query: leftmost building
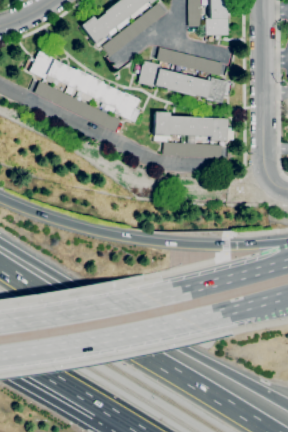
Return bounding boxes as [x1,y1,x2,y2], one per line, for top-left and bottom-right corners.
[30,51,52,78]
